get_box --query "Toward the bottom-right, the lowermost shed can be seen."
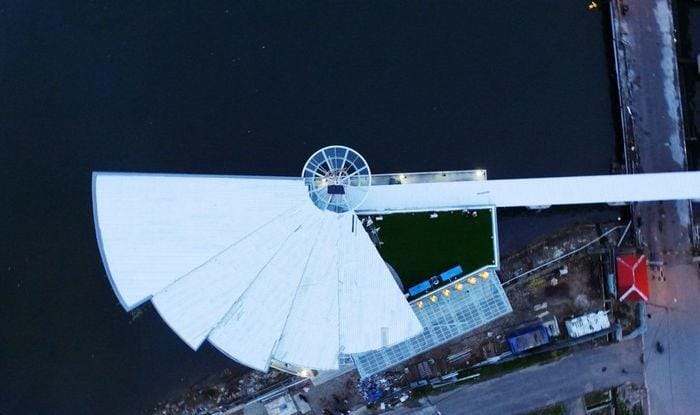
[559,308,612,336]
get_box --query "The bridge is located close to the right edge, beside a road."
[608,0,700,246]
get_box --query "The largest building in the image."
[92,144,498,381]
